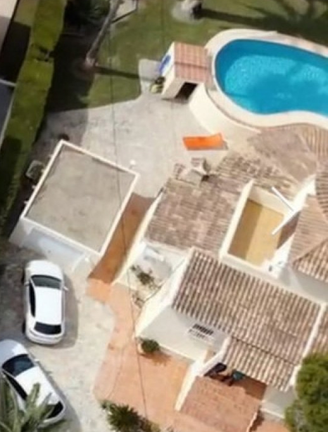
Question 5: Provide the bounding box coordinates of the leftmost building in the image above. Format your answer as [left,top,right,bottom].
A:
[11,142,139,280]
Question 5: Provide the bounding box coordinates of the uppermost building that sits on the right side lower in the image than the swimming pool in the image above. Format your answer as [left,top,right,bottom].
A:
[133,123,328,386]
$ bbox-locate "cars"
[0,344,69,432]
[23,259,71,345]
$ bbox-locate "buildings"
[159,43,209,102]
[11,142,139,280]
[133,123,328,386]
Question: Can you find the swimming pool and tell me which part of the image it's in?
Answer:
top right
